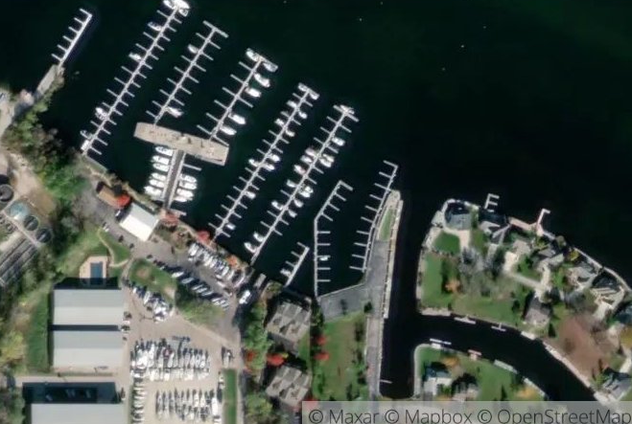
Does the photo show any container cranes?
No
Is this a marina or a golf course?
marina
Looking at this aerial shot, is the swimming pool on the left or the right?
left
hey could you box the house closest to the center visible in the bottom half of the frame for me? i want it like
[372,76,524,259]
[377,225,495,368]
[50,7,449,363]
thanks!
[265,303,312,345]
